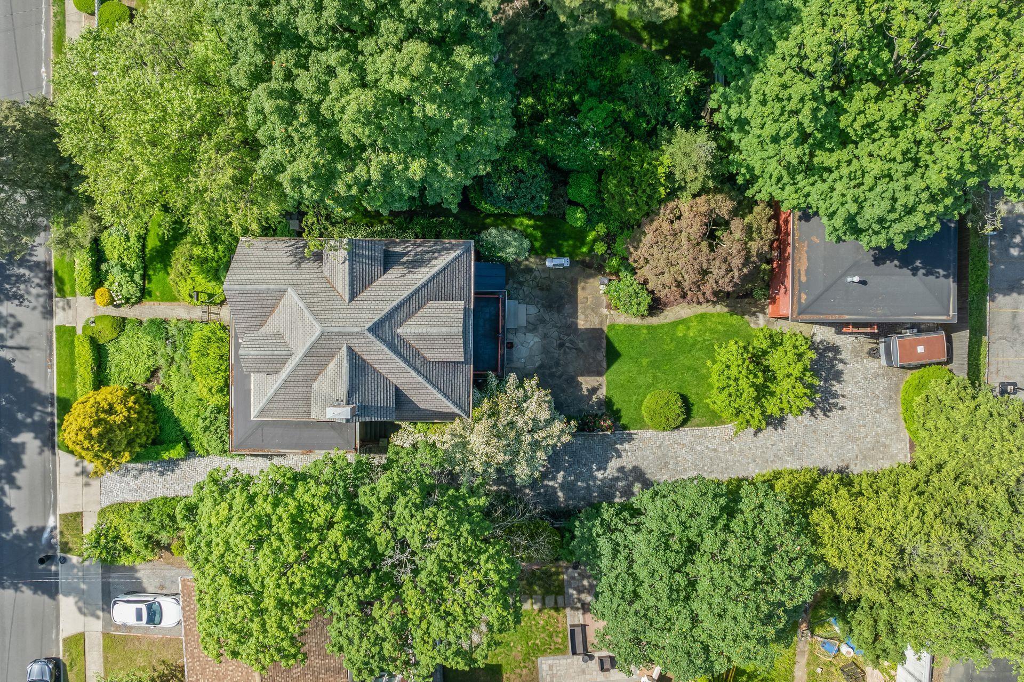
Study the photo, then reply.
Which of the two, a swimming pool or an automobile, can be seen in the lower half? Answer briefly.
automobile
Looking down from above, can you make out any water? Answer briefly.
No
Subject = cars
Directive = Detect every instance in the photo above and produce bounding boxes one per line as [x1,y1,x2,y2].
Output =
[111,591,180,628]
[27,656,67,682]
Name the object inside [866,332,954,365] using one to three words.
trailer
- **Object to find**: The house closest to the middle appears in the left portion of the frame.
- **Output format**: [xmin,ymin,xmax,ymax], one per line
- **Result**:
[221,237,527,455]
